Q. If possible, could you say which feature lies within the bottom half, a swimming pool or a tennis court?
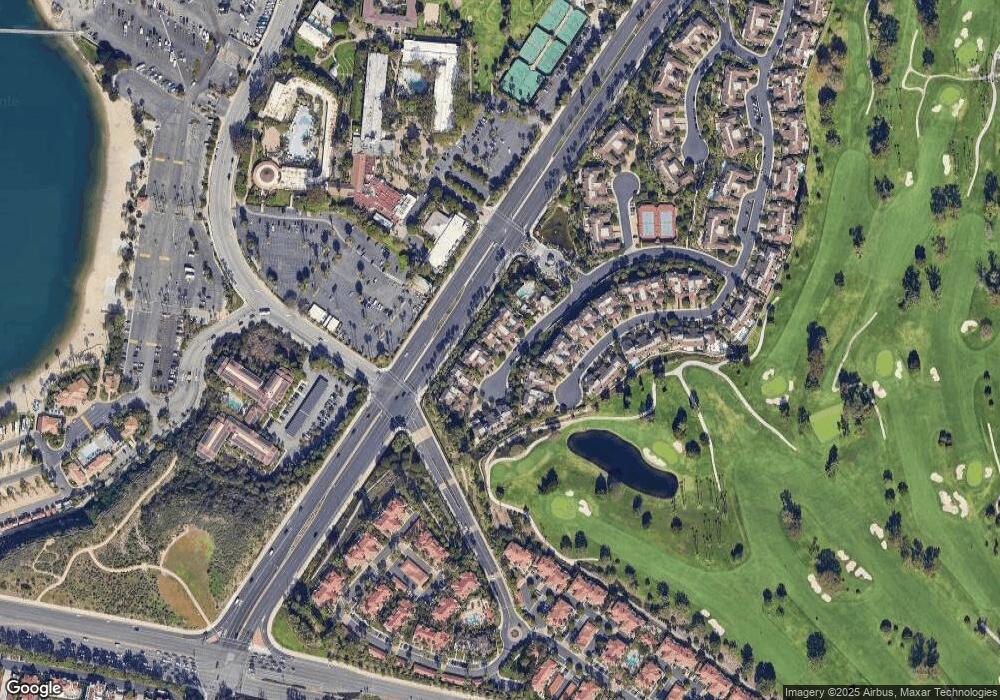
swimming pool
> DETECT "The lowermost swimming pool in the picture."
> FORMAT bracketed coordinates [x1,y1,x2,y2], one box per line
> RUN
[623,648,641,674]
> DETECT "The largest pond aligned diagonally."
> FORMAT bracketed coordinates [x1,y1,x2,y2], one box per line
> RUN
[567,430,679,498]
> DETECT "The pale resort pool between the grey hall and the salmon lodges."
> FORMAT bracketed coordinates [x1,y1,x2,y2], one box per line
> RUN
[77,436,104,466]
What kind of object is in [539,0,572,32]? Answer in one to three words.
tennis court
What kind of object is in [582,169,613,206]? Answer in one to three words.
house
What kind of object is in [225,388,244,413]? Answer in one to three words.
swimming pool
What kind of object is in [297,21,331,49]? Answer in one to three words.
building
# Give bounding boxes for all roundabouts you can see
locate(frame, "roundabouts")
[496,616,531,651]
